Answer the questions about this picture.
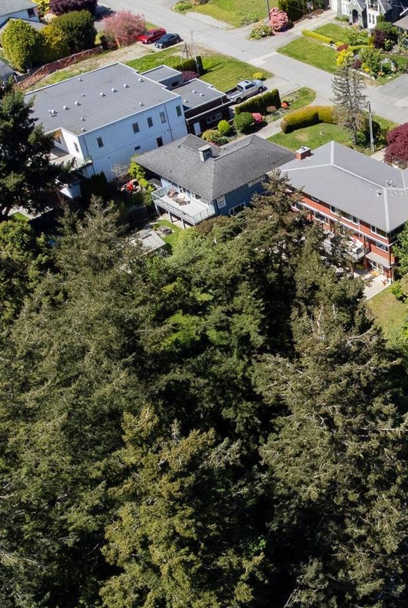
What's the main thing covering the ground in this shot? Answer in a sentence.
What you mostly see from above here is trees.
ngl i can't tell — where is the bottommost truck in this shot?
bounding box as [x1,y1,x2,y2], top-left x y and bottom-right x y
[226,77,262,99]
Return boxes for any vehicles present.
[137,25,165,40]
[154,31,180,45]
[226,77,262,99]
